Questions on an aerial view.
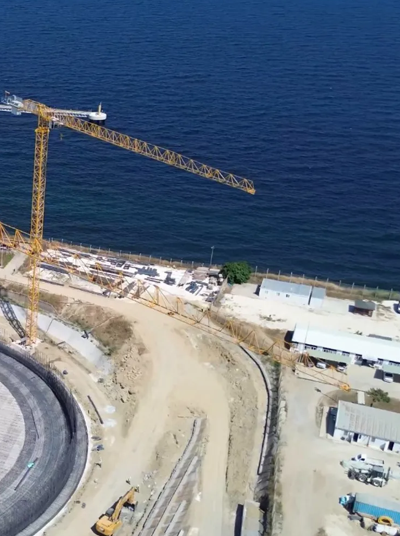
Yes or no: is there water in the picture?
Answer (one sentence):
Yes, water can be seen from above here.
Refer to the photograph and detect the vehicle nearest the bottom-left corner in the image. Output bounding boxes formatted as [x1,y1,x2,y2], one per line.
[93,486,127,536]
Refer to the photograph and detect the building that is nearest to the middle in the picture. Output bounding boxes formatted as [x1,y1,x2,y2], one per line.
[260,277,312,306]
